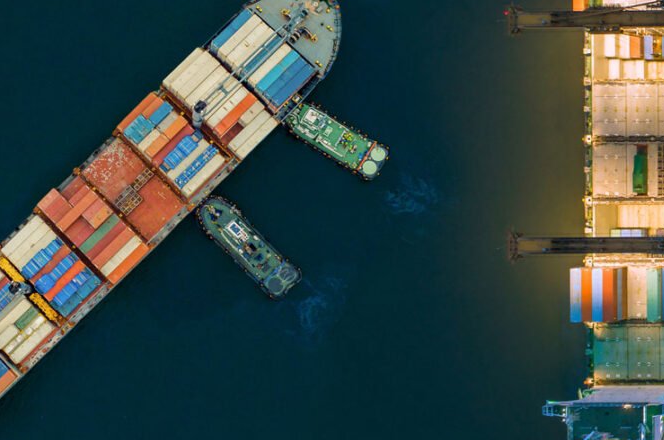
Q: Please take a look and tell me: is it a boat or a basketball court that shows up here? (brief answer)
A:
boat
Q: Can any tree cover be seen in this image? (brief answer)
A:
No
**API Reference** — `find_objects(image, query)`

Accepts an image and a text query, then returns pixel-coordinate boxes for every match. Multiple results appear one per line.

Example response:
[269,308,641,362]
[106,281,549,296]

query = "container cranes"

[506,0,664,37]
[506,227,664,262]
